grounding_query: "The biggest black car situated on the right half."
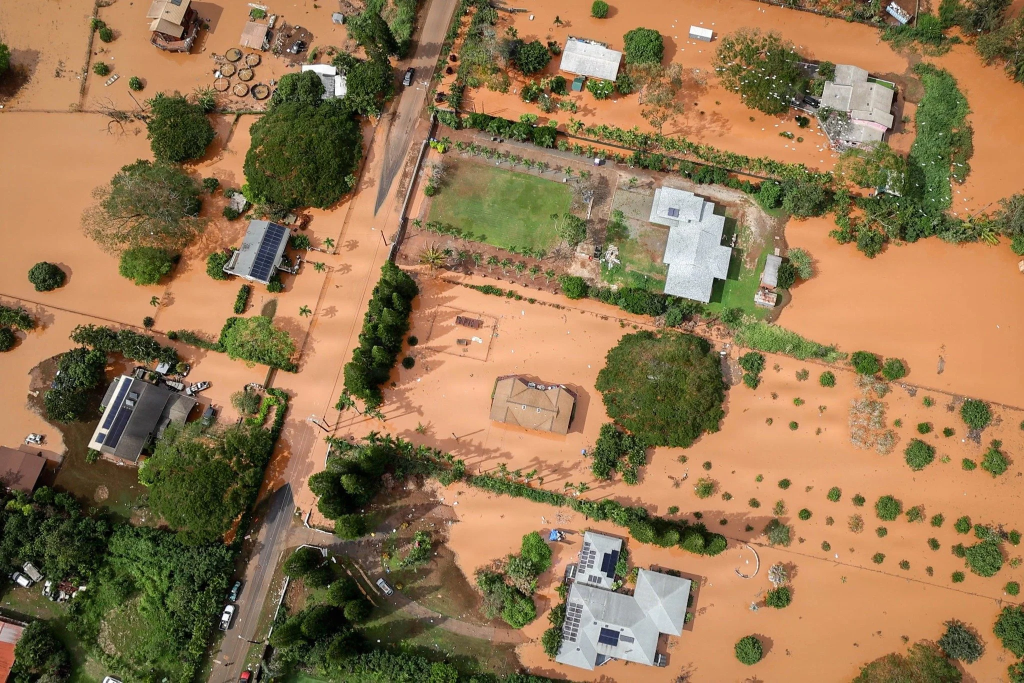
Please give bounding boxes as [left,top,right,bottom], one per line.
[803,95,822,107]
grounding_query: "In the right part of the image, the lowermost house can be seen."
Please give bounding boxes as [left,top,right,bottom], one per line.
[556,531,692,671]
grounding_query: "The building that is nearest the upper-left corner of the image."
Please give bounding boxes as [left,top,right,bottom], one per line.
[147,0,204,58]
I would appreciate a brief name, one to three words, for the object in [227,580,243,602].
car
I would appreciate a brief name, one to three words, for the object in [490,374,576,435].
house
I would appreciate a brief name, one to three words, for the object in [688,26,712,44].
shed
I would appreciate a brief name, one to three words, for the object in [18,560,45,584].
vehicle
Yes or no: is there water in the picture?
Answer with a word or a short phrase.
Yes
